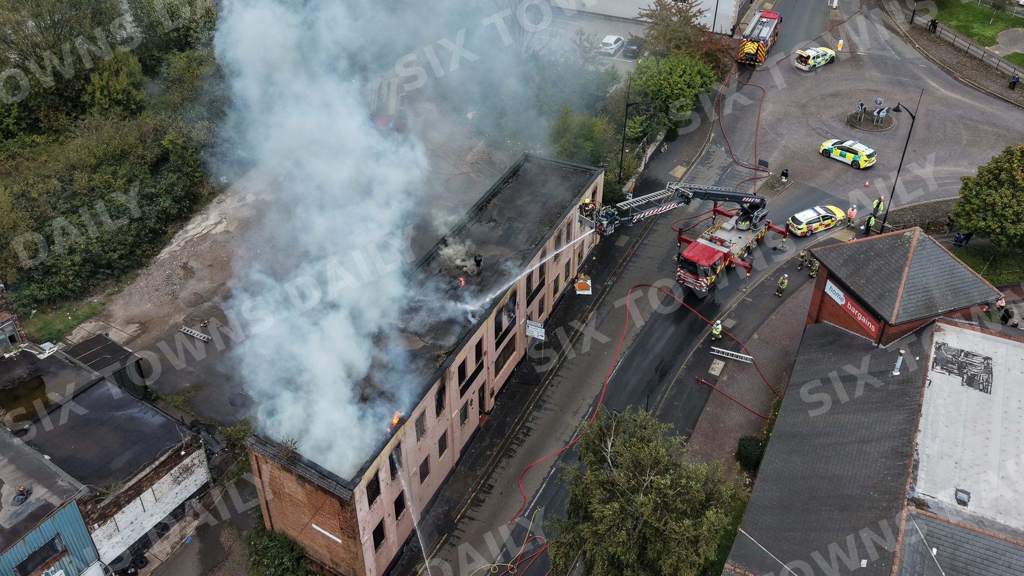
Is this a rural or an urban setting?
urban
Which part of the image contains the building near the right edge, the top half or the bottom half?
bottom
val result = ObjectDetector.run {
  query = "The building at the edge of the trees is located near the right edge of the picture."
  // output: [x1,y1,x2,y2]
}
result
[713,222,1024,576]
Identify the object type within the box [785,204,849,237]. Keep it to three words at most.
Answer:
car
